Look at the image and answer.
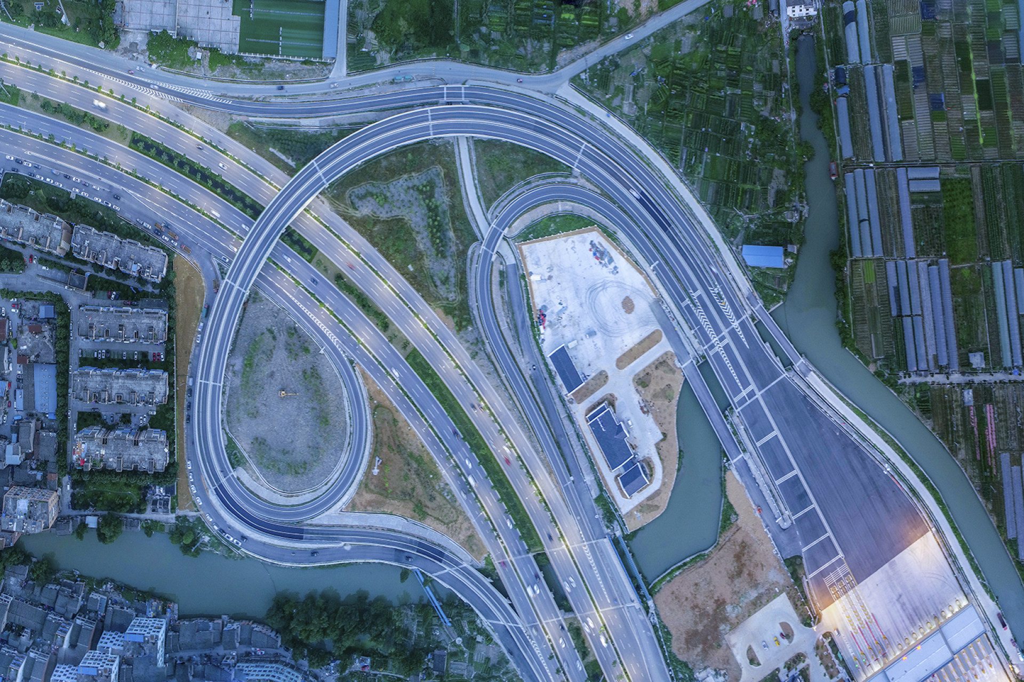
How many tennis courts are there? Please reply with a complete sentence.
Not a single tennis court can be seen.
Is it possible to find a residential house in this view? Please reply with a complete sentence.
Yes, a residential house is visible in the scene.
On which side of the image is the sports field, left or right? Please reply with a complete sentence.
You can find the sports field on the left side of the picture.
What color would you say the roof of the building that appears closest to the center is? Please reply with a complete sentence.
The color of the roof on the building that appears closest to the center is blue.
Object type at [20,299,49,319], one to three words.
house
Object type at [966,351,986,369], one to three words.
shed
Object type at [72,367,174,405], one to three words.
building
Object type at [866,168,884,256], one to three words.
greenhouse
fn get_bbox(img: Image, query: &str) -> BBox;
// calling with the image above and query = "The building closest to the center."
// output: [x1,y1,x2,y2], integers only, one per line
[547,343,585,396]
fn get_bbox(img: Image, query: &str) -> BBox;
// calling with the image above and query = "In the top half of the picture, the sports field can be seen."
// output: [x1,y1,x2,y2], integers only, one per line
[234,0,323,58]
